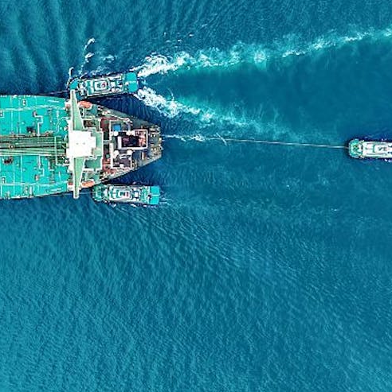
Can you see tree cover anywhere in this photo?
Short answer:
No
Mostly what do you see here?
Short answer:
water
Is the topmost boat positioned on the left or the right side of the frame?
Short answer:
left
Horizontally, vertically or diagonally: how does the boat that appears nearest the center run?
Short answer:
horizontally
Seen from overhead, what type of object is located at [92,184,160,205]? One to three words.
boat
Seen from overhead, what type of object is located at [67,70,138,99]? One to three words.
boat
